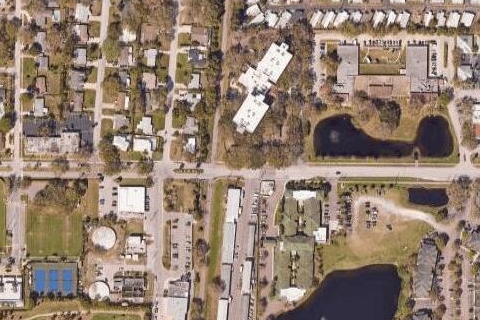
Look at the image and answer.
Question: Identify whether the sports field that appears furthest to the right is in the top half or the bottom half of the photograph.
bottom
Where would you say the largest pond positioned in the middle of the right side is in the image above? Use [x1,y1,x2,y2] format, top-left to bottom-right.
[314,114,453,158]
